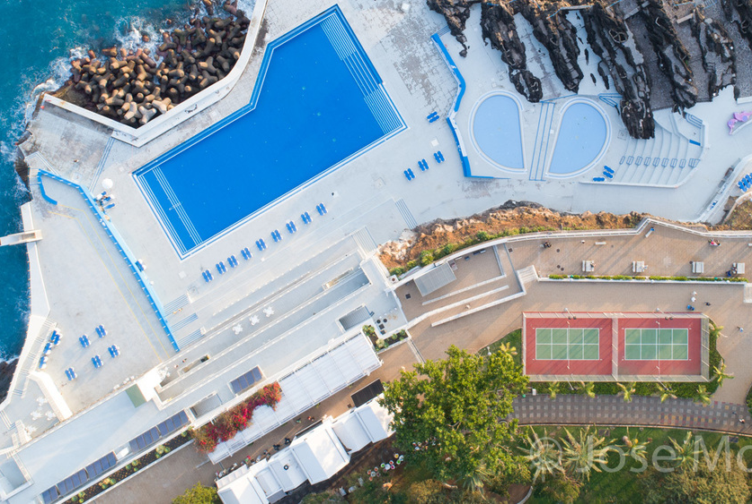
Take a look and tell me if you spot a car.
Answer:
No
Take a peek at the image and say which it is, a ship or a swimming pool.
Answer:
swimming pool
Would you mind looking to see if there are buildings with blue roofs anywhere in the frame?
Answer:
No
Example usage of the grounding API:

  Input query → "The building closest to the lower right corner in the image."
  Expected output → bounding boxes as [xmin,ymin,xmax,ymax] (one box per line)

[413,261,456,297]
